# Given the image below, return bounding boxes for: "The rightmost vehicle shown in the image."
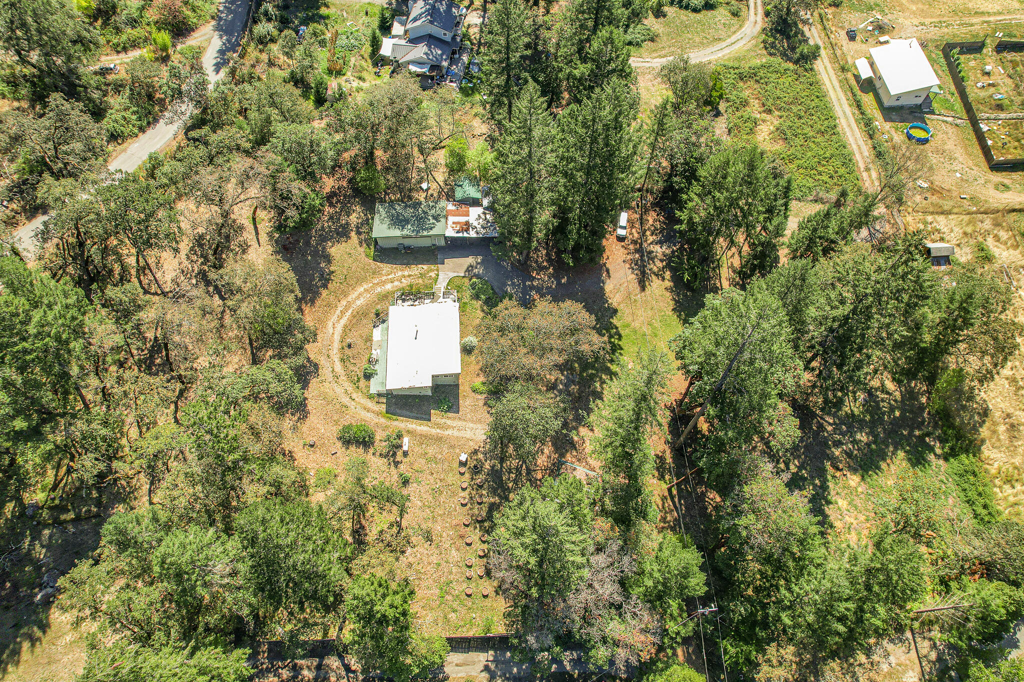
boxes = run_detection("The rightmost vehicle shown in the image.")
[847,26,859,39]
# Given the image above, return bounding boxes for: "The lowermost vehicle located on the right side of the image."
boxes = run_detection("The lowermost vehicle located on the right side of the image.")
[616,213,629,239]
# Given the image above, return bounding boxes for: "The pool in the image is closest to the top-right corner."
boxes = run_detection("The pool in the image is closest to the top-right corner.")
[905,120,937,145]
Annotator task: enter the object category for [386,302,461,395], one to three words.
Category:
house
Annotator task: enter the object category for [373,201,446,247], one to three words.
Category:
building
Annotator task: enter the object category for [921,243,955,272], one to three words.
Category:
shed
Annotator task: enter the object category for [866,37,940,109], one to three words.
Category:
house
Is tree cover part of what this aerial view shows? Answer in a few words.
Yes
